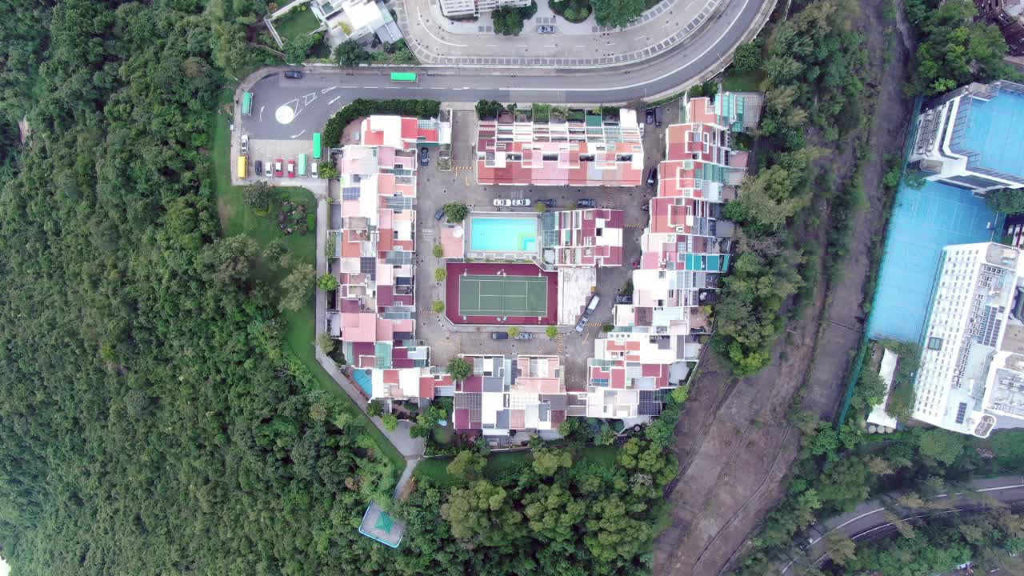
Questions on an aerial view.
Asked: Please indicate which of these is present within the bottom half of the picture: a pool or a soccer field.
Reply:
pool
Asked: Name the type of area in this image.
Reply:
residential area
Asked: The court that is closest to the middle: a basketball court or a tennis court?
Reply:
tennis court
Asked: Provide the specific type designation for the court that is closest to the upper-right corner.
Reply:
basketball court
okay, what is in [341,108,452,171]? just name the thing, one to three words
house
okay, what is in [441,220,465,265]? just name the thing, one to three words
building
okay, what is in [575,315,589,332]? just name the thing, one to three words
car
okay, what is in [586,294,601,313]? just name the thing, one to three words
vehicle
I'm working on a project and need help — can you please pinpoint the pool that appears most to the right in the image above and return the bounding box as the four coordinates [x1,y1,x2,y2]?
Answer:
[464,211,558,271]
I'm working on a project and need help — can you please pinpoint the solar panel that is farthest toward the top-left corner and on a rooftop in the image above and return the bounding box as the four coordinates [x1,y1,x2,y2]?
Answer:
[343,187,360,200]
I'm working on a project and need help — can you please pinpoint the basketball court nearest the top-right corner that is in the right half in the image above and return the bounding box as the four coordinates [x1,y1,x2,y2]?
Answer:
[875,181,1014,344]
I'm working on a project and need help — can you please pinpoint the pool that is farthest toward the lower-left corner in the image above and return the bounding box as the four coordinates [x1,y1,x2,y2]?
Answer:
[343,367,372,398]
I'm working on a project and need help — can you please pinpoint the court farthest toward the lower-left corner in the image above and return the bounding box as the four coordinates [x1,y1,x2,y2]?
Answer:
[447,263,557,325]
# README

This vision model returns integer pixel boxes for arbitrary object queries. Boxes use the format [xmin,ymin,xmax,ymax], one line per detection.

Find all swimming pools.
[343,367,372,398]
[464,211,558,271]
